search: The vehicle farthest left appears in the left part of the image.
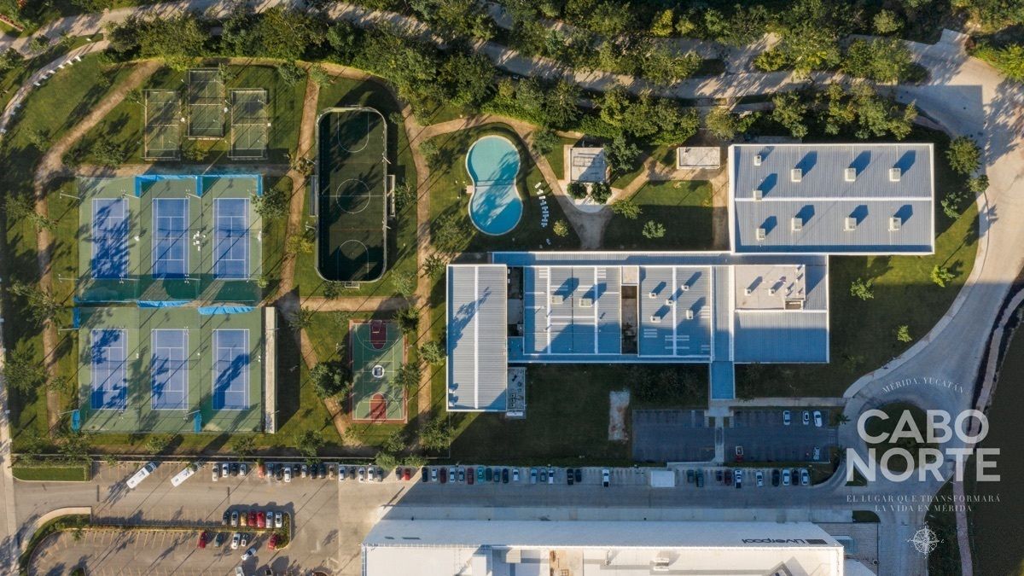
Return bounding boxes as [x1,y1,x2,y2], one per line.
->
[122,464,155,488]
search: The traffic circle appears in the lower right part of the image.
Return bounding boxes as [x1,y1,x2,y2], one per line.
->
[861,395,943,477]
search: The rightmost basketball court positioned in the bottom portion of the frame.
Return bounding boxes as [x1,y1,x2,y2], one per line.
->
[349,320,407,423]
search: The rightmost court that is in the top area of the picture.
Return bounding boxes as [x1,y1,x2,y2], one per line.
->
[314,104,386,290]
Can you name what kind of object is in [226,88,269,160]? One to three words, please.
sports court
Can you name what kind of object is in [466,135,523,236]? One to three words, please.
swimming pool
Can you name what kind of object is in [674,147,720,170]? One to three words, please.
building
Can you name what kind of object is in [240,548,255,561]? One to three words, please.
vehicle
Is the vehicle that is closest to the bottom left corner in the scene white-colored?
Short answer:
Yes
